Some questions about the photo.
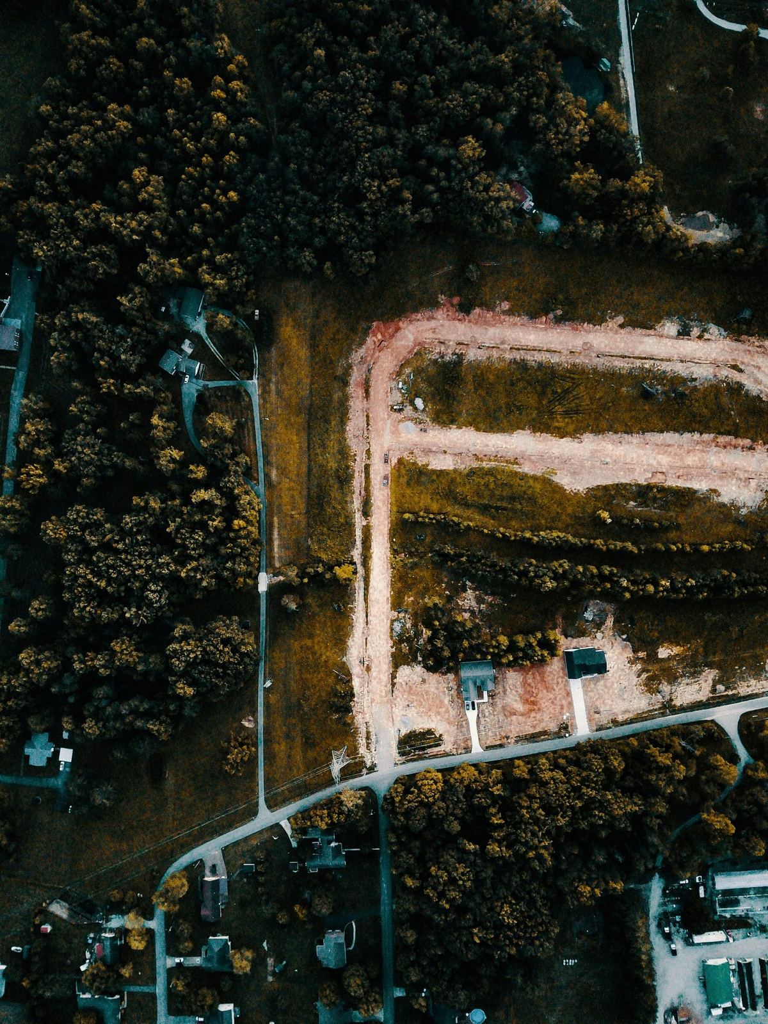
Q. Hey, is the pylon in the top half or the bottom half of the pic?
bottom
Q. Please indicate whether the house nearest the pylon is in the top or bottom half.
bottom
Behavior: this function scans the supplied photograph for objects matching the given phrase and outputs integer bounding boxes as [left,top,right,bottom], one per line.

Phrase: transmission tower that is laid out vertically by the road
[331,745,351,788]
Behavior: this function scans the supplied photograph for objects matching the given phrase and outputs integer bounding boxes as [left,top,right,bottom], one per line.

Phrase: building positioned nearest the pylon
[303,828,346,872]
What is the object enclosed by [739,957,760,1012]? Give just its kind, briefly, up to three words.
shed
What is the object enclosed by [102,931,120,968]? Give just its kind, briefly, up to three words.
house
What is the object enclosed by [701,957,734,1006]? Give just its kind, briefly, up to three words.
building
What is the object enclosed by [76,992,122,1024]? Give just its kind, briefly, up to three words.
house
